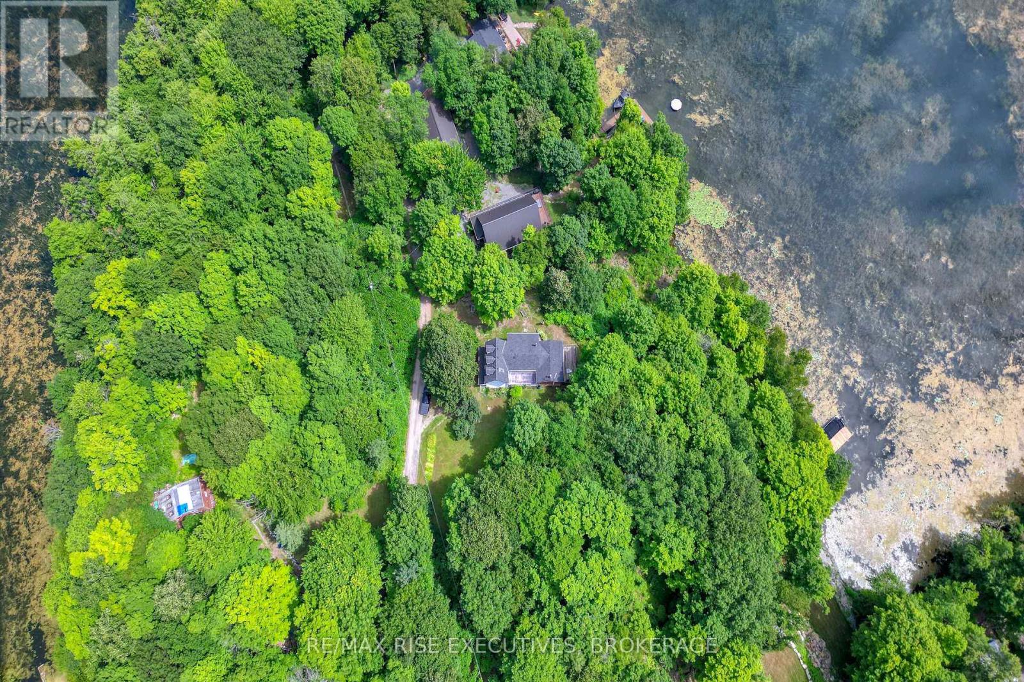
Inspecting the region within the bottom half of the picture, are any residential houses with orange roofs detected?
No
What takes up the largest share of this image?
trees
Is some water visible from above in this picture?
Yes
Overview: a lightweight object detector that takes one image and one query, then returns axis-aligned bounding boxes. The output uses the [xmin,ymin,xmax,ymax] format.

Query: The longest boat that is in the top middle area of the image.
[611,87,629,110]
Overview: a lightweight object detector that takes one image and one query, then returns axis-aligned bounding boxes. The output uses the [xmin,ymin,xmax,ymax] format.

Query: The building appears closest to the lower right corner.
[478,333,577,391]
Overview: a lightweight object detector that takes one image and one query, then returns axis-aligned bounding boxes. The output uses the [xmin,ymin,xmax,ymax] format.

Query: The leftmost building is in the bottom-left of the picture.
[154,478,215,528]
